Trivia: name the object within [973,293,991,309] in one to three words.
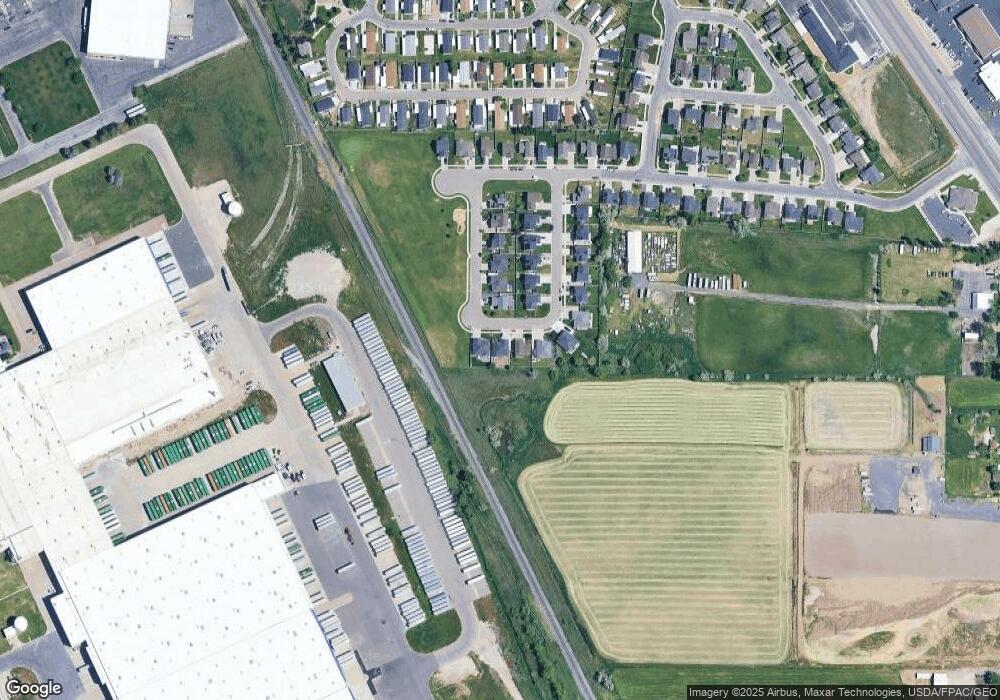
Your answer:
building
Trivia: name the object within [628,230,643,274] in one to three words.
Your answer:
shed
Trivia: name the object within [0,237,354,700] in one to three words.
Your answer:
warehouse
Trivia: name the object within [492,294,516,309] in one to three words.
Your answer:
house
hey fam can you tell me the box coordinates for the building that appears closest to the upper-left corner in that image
[84,0,195,69]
